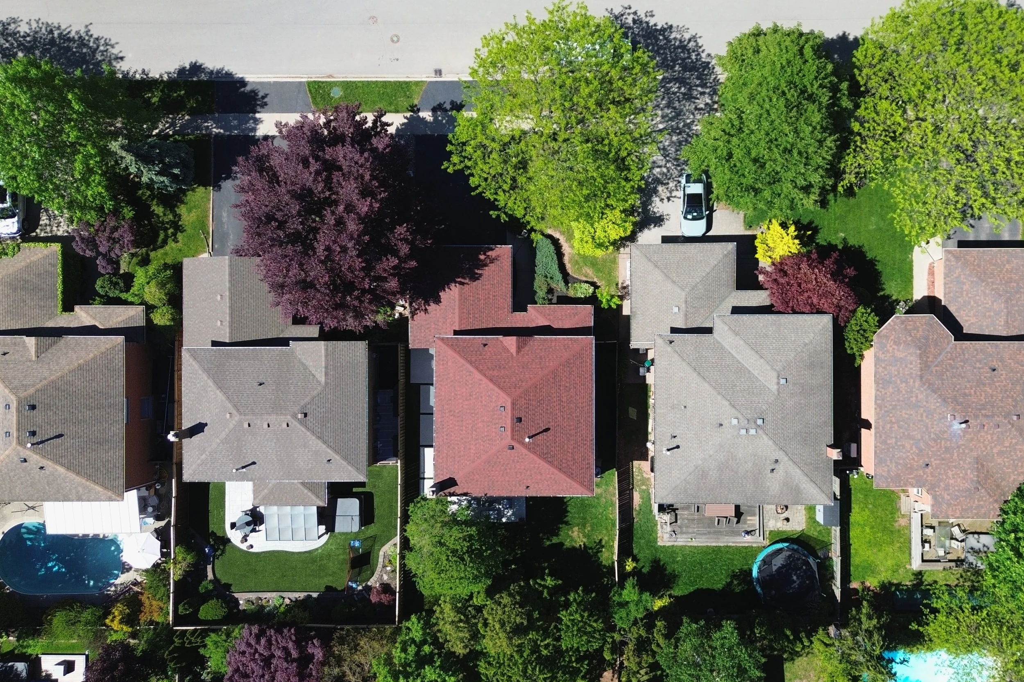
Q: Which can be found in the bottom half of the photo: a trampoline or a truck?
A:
trampoline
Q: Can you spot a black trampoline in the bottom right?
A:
Yes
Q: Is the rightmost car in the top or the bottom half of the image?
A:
top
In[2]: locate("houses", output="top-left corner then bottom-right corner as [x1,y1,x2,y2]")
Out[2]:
[166,256,376,508]
[407,244,596,499]
[629,242,845,506]
[0,244,158,503]
[850,247,1024,520]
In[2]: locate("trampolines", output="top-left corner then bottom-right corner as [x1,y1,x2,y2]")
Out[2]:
[750,539,828,617]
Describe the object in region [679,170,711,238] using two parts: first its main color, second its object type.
white car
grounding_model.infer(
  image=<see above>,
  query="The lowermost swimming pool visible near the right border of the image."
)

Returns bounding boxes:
[880,647,1006,682]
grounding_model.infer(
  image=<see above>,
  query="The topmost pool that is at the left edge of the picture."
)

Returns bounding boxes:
[0,518,125,598]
